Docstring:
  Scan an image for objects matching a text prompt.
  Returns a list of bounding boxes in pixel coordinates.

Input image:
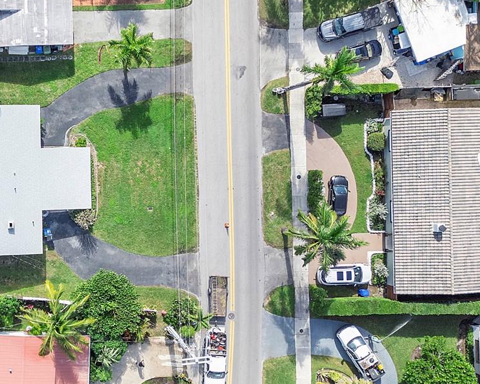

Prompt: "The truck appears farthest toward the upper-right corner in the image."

[384,26,408,53]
